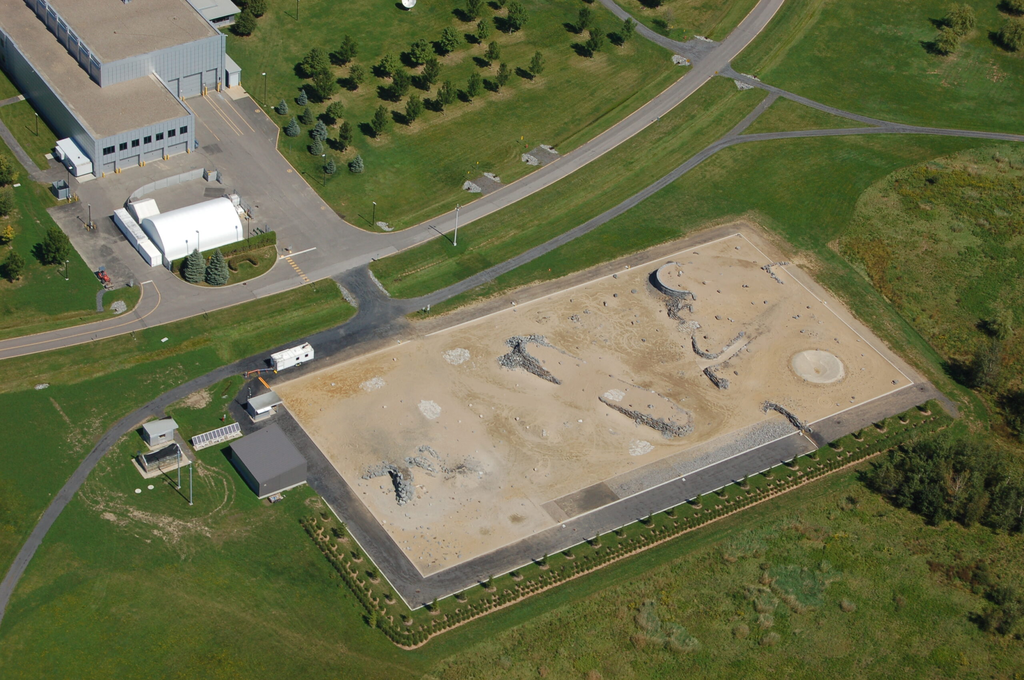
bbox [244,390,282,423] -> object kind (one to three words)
shed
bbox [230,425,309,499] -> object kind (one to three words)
barn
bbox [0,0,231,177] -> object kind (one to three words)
building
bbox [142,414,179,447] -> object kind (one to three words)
shed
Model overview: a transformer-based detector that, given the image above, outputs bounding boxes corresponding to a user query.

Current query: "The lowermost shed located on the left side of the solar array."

[131,439,189,479]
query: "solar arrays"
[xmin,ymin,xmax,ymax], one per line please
[192,422,243,451]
